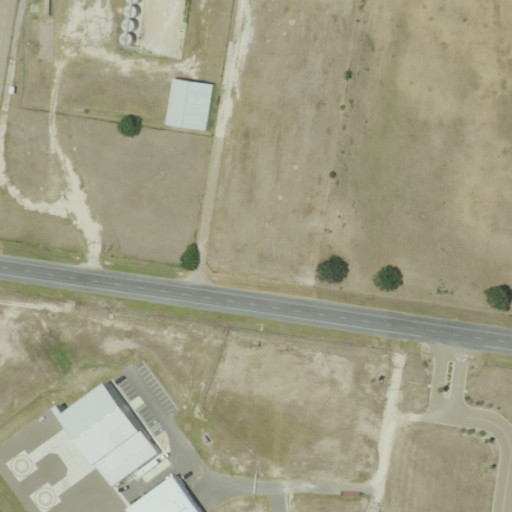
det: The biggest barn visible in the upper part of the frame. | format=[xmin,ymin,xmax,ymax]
[166,78,214,130]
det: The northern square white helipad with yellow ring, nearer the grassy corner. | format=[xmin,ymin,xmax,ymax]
[6,450,38,482]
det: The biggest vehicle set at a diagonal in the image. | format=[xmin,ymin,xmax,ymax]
[135,453,170,476]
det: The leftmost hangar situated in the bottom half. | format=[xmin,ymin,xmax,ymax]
[52,382,160,486]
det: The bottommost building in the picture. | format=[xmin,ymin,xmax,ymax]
[126,472,204,512]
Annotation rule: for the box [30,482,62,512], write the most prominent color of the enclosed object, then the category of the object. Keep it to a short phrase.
white helipad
